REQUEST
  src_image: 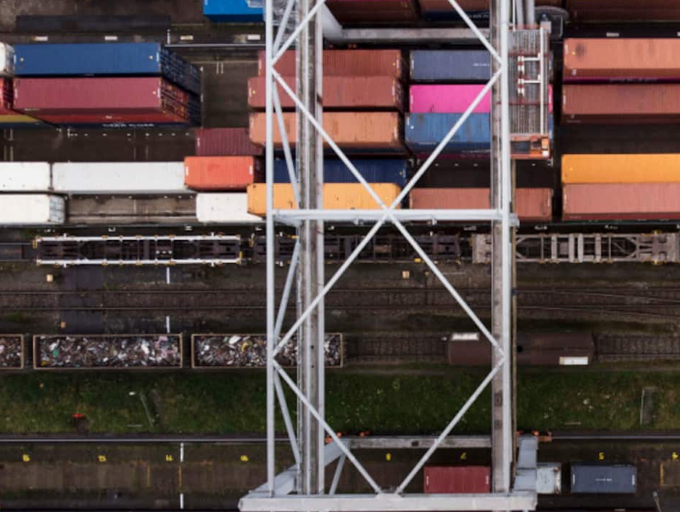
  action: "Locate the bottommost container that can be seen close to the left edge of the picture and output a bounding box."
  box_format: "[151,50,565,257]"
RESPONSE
[0,194,67,224]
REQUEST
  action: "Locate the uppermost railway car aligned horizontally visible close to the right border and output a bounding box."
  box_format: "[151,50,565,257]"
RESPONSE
[468,233,680,265]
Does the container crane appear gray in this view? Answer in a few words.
Yes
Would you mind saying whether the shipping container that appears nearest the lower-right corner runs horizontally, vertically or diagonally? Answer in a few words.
horizontally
